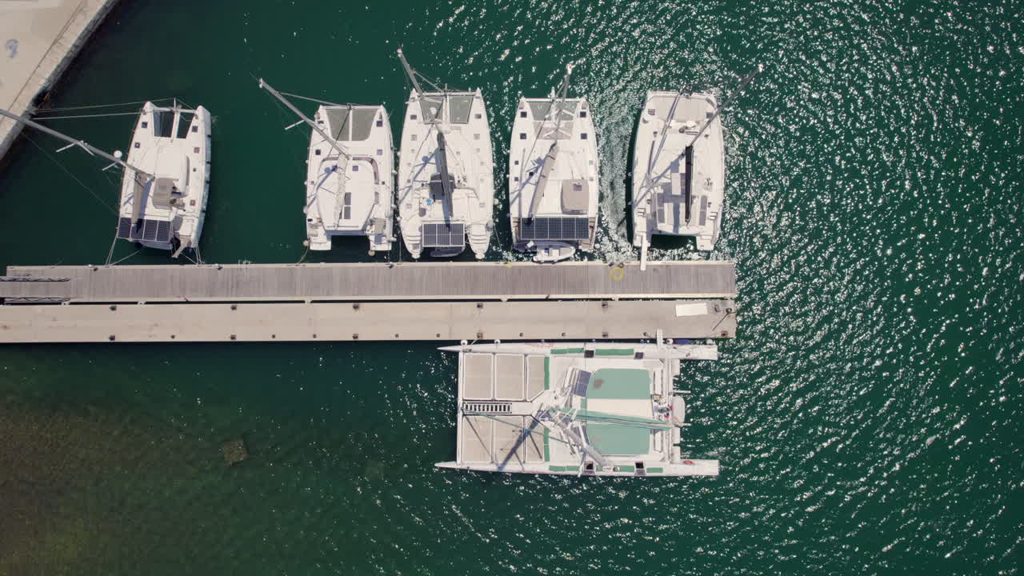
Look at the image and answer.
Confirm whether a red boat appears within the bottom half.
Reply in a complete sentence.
No, no red boat appears within the bottom half.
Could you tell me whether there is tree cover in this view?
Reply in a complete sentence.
No, tree cover can't be seen anywhere here.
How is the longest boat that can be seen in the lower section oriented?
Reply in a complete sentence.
Seen from above, the longest boat that can be seen in the lower section lies from left to right.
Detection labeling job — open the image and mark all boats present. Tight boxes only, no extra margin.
[434,343,717,477]
[674,396,685,422]
[431,246,465,259]
[525,243,576,262]
[396,43,494,262]
[630,59,764,257]
[138,236,178,253]
[510,59,598,250]
[257,74,396,250]
[0,97,212,249]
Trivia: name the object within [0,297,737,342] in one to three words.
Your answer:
pier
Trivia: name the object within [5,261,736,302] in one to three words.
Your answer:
pier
